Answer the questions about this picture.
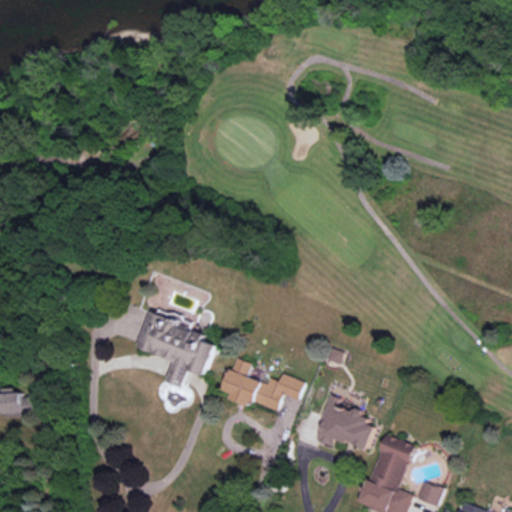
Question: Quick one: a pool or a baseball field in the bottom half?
pool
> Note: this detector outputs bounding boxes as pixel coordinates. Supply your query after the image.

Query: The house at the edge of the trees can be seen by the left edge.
[0,388,35,416]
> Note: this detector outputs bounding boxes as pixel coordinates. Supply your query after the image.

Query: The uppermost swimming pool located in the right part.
[410,462,442,484]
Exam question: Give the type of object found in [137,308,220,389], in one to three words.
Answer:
house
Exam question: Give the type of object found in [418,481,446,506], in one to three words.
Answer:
building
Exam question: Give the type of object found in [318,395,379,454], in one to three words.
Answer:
house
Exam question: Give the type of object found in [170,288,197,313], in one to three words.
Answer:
swimming pool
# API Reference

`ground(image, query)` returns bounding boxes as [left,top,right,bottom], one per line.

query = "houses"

[358,433,418,512]
[0,388,35,416]
[218,359,308,412]
[318,395,379,454]
[137,308,220,389]
[454,503,489,512]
